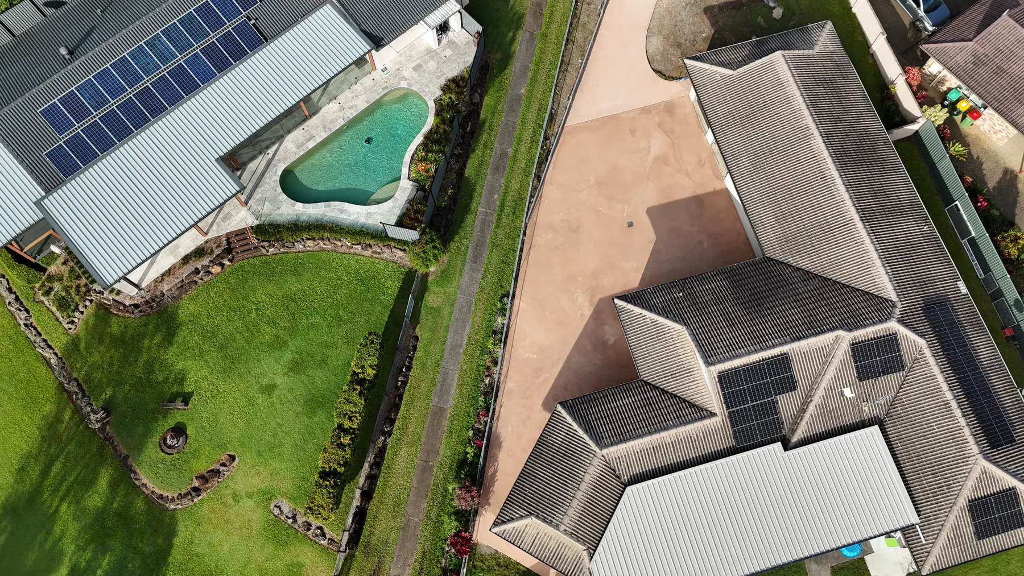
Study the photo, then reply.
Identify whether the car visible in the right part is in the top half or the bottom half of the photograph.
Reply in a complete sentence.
The top half of the photo is where the car visible in the right part is.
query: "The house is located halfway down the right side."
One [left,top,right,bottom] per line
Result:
[490,19,1024,576]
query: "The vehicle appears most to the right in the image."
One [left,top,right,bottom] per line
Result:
[890,0,949,38]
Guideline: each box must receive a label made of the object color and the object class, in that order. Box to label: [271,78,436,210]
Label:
green swimming pool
